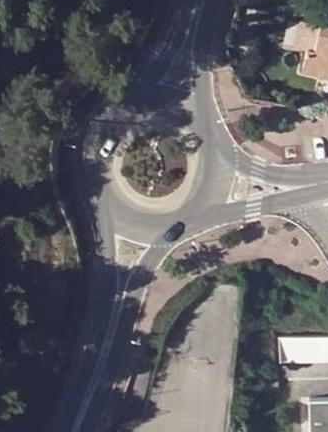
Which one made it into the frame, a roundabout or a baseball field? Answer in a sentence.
It is a roundabout that can be seen here.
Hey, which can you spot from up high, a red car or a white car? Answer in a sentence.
Of the two, only a white car appears.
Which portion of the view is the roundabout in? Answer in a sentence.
The roundabout is in the center part of the image.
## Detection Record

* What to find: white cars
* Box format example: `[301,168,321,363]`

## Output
[99,138,116,158]
[314,138,326,159]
